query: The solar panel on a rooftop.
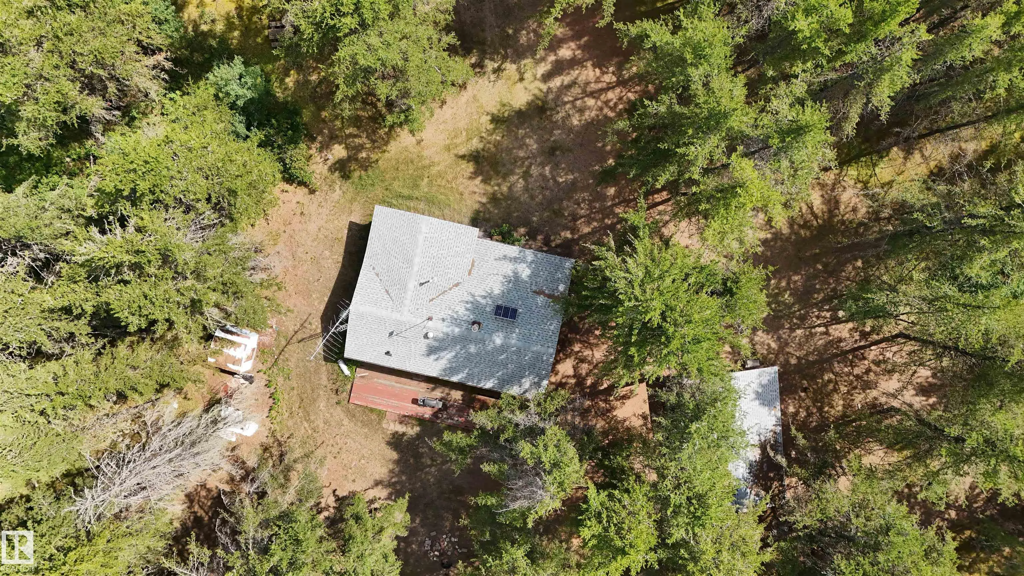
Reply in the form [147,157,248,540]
[494,303,517,321]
